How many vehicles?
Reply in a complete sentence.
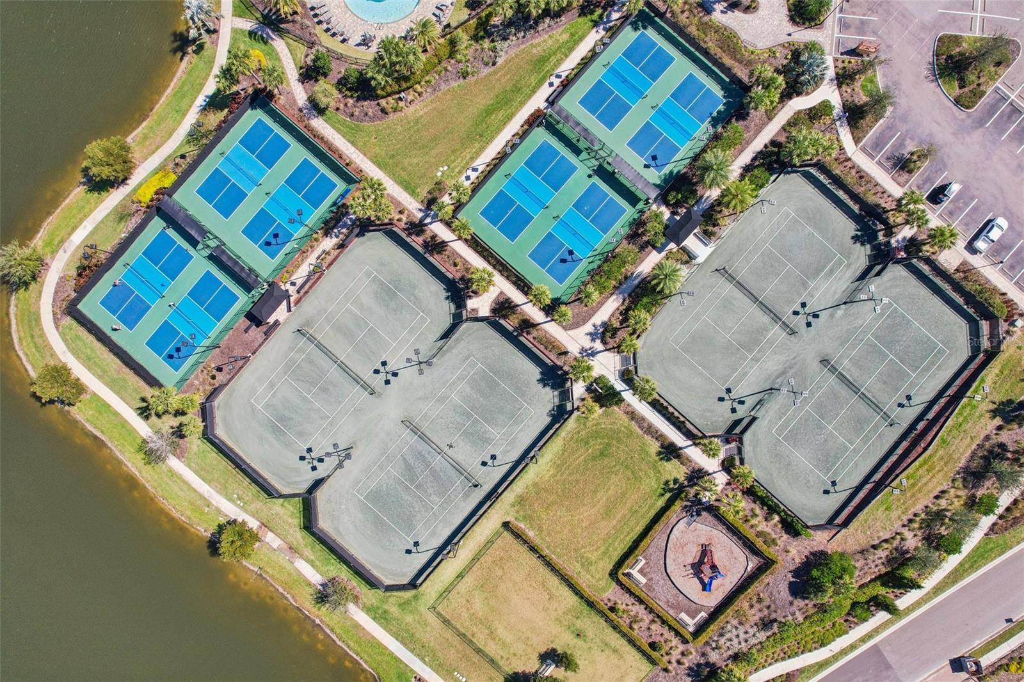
In total, there are 2 vehicles in the scene.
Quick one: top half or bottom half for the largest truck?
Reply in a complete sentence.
The largest truck sits in the top half of the picture.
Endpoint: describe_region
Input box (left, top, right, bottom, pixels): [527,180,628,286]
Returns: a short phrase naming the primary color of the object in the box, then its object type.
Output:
blue sports court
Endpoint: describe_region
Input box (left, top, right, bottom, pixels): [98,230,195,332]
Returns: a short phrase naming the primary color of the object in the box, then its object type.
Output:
blue sports court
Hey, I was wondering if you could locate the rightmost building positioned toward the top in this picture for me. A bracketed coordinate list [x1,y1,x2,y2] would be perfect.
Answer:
[663,208,703,247]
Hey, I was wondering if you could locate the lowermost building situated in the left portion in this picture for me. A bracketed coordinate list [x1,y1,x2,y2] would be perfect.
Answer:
[251,281,293,322]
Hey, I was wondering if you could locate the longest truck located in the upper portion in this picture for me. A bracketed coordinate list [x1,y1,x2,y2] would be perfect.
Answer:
[971,217,1011,257]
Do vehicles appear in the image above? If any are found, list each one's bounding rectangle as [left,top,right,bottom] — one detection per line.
[971,217,1011,257]
[932,184,957,205]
